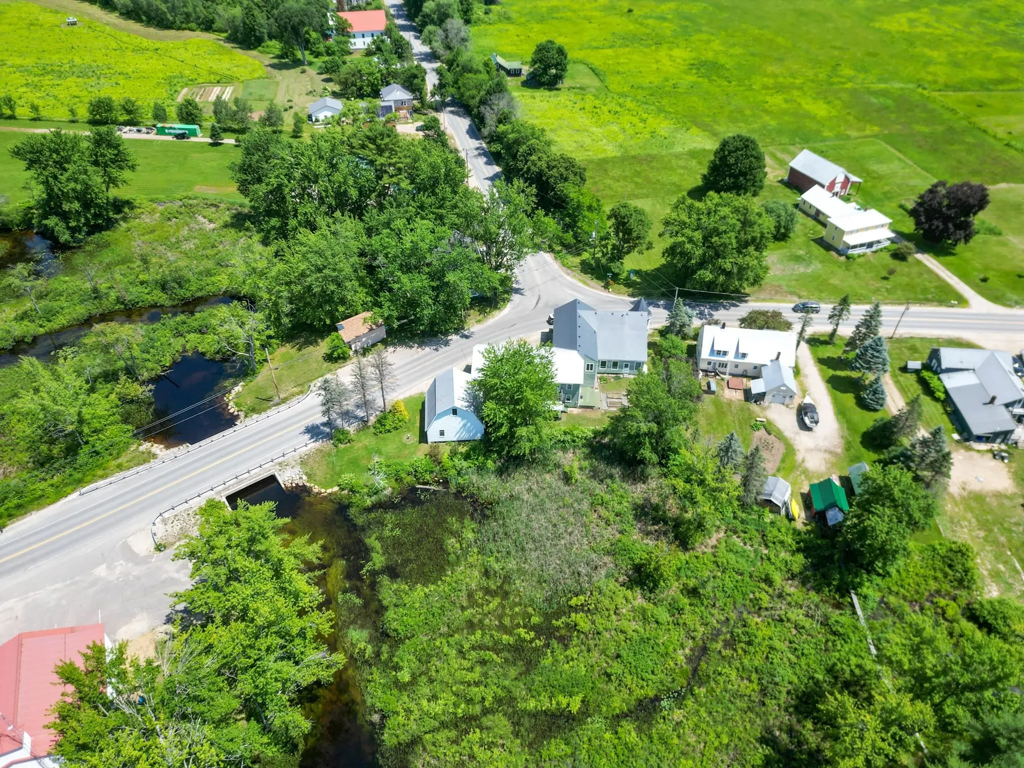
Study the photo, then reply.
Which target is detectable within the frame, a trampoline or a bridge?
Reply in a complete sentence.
I can see a bridge in this picture.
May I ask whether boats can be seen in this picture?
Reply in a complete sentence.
Yes, a boat can be made out from above.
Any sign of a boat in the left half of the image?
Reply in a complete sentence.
No, in the left half of the image there is no boat.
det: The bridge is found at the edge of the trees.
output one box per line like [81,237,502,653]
[192,422,289,513]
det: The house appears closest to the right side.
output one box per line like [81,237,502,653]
[926,346,1024,441]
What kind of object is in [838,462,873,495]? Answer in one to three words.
shed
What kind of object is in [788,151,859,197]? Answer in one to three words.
barn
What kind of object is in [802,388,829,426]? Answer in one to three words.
boat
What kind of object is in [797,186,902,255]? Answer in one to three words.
house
